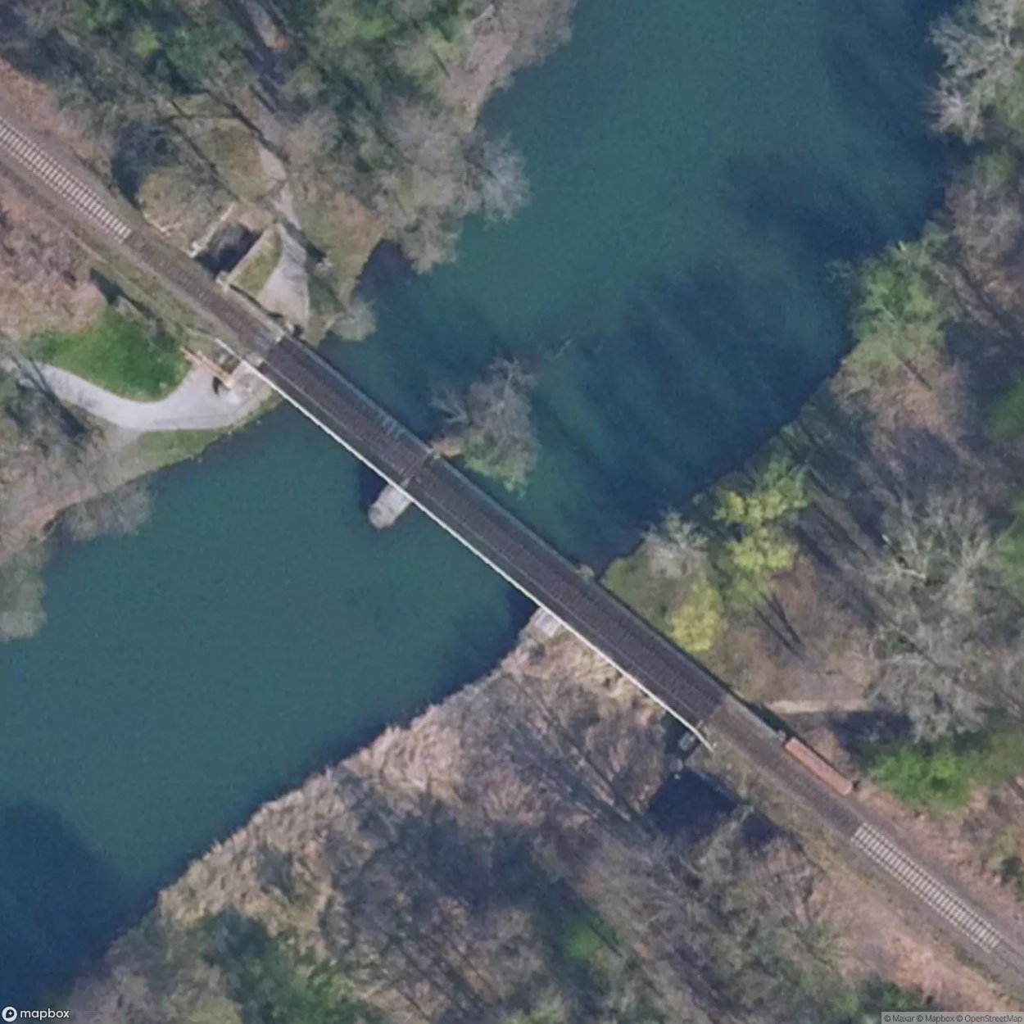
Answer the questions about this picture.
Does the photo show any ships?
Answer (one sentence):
No, this view has no ship in it.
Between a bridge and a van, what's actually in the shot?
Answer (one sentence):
This aerial view contains a bridge.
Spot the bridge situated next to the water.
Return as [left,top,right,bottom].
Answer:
[217,284,796,787]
